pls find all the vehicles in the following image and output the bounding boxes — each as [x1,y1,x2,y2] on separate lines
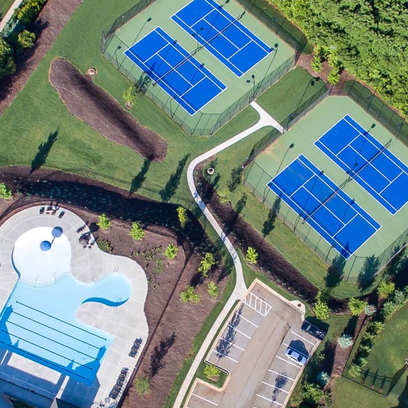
[298,319,327,341]
[286,346,310,365]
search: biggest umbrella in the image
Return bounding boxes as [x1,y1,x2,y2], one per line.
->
[75,232,90,246]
